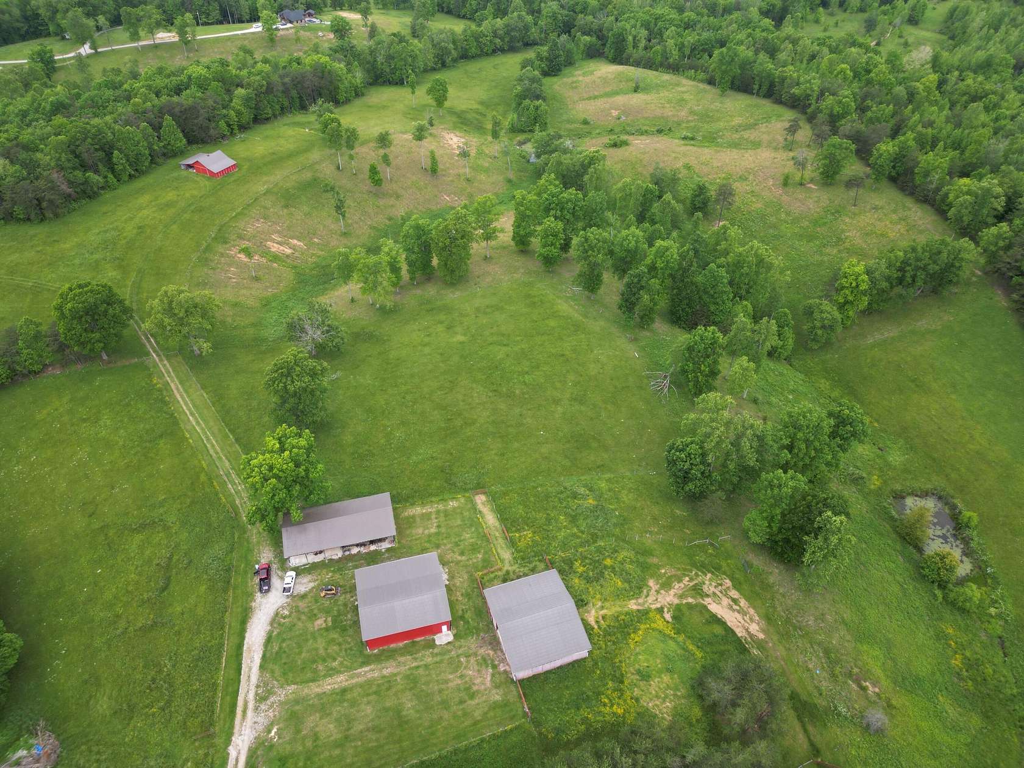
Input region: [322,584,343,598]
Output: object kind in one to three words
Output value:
work vehicle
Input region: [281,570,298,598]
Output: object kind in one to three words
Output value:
vehicle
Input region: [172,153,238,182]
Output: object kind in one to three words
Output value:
barn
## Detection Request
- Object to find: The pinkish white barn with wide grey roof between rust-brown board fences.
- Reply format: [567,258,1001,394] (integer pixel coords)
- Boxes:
[482,568,593,680]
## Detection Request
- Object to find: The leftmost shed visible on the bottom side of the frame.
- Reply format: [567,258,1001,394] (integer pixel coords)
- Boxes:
[281,490,396,567]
